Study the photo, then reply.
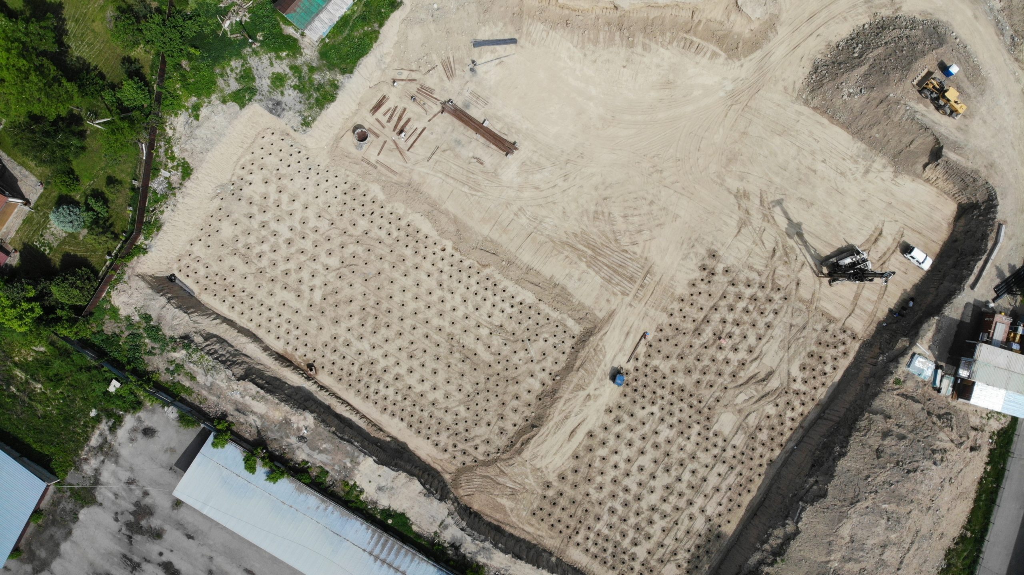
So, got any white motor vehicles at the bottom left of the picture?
No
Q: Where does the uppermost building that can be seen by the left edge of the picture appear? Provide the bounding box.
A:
[0,189,34,231]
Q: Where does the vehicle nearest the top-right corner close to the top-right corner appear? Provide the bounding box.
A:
[909,66,975,115]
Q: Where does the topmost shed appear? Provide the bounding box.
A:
[273,0,359,47]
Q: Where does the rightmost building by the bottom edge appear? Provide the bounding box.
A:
[172,440,469,575]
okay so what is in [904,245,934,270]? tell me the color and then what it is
white car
